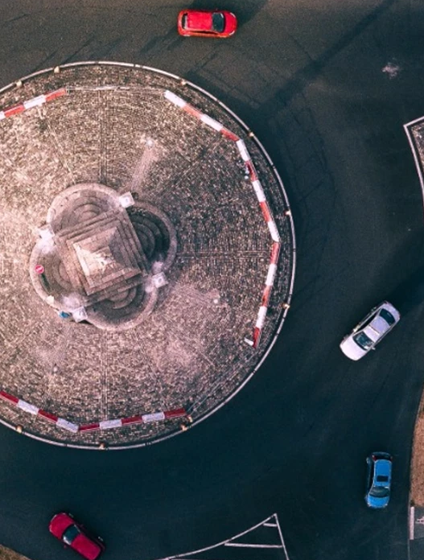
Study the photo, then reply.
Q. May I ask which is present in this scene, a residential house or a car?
car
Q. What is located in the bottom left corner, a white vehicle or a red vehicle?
red vehicle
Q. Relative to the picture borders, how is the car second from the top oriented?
at an angle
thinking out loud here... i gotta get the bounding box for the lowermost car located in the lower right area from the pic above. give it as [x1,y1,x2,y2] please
[365,452,393,507]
